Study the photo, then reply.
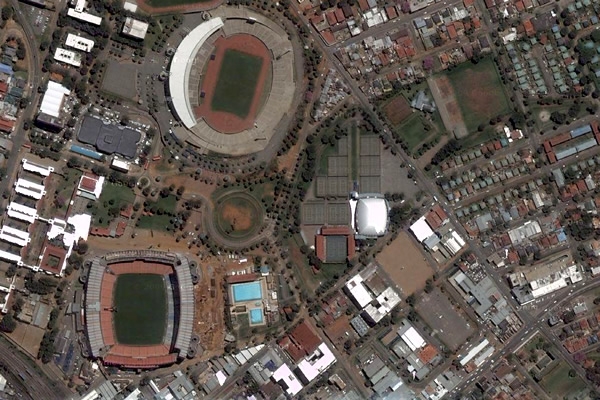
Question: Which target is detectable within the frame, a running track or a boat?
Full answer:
The one in the frame is a running track.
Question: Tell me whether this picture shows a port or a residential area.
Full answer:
The picture captures a residential area.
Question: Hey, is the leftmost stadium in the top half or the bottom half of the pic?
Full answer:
The leftmost stadium sits in the bottom half of the picture.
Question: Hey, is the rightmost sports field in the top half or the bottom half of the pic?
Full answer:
You can find the rightmost sports field in the top half.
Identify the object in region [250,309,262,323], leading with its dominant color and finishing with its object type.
blue swimming pool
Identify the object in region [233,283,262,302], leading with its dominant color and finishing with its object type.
blue swimming pool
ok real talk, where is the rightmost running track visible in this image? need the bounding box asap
[200,34,272,133]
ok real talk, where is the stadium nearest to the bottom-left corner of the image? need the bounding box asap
[78,249,200,368]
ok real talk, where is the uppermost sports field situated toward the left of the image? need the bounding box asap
[212,49,262,116]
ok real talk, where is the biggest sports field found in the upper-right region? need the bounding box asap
[449,57,512,133]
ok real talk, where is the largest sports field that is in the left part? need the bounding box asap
[113,273,166,345]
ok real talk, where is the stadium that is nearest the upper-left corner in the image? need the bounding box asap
[160,6,294,157]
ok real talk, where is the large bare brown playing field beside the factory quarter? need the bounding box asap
[378,231,435,296]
